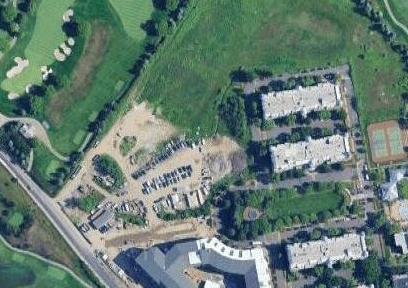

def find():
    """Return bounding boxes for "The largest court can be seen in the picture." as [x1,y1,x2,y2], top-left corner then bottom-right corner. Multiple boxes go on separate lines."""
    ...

[368,119,405,163]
